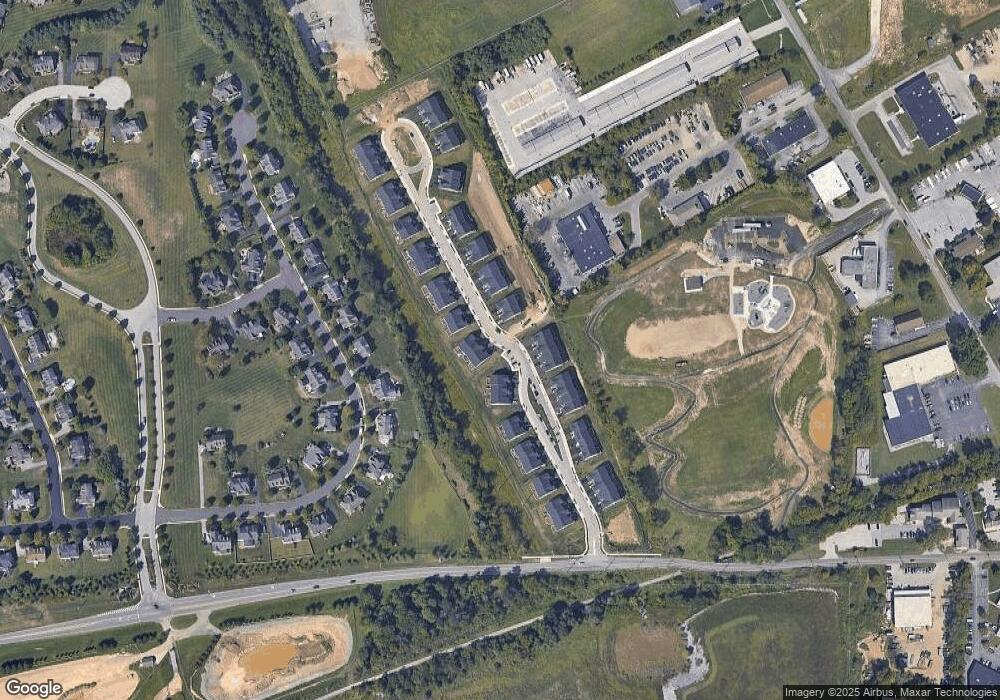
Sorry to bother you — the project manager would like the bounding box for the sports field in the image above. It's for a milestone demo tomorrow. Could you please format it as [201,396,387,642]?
[629,315,736,357]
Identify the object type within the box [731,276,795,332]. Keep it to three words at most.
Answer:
playground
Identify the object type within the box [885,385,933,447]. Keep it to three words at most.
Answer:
building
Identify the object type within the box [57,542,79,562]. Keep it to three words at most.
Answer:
house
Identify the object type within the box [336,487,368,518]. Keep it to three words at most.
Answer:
house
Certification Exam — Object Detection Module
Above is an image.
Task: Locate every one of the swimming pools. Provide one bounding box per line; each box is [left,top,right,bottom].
[80,134,102,153]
